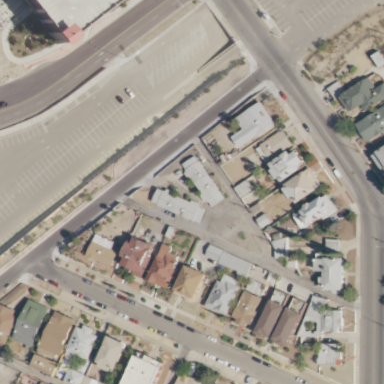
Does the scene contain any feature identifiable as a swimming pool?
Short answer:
No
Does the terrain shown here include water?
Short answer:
No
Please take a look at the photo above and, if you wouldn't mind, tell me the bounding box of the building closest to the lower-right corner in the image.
[317,346,341,366]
